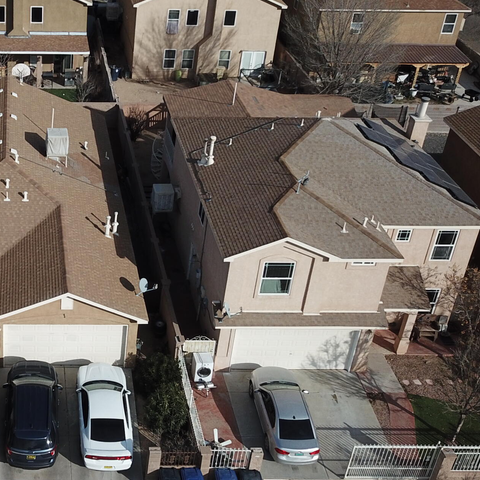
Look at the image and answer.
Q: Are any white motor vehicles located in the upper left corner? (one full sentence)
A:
No, there's no white motor vehicle to be seen in the upper left corner.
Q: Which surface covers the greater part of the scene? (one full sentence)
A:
The bulk of the photo consists of buildings.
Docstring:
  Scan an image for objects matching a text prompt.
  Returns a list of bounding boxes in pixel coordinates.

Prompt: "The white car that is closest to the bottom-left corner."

[73,366,136,477]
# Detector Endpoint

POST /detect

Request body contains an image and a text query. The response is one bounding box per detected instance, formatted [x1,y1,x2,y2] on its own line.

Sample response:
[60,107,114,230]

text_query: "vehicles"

[0,365,63,473]
[73,366,136,477]
[249,368,324,471]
